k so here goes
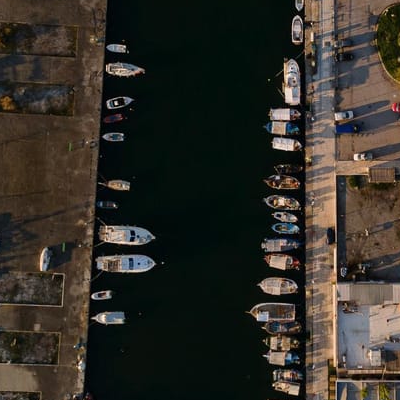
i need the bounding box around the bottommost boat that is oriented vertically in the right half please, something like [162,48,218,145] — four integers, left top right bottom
[278,52,302,104]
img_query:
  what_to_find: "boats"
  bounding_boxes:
[294,0,304,11]
[274,164,307,173]
[262,337,300,353]
[271,223,305,235]
[102,62,145,76]
[104,96,134,110]
[256,278,304,296]
[105,43,127,52]
[262,174,305,190]
[103,113,125,123]
[246,303,308,323]
[263,255,306,273]
[262,320,307,335]
[262,196,306,211]
[93,253,156,279]
[272,212,305,223]
[263,121,305,135]
[271,137,303,151]
[262,352,300,368]
[271,382,307,400]
[89,312,126,326]
[278,52,302,104]
[100,176,130,191]
[291,14,303,47]
[96,201,118,209]
[96,220,156,245]
[269,107,304,120]
[260,239,305,254]
[101,132,125,141]
[89,290,112,301]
